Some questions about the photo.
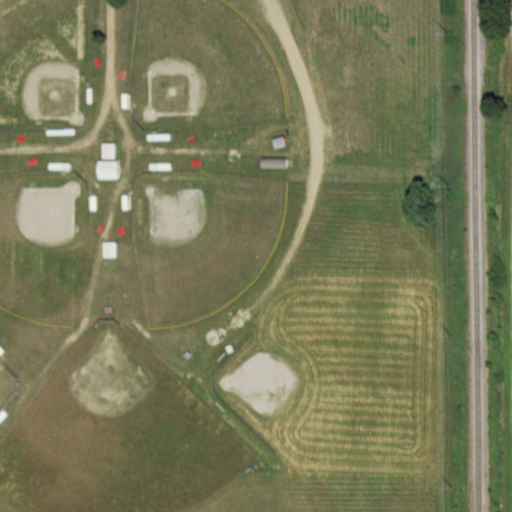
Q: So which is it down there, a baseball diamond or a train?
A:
baseball diamond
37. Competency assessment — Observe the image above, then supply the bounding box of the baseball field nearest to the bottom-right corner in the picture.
[214,341,300,425]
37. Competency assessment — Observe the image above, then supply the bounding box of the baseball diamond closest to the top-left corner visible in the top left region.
[0,0,87,132]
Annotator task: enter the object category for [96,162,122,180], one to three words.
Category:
building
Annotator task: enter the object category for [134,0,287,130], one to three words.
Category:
baseball field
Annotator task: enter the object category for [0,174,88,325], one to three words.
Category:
baseball field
